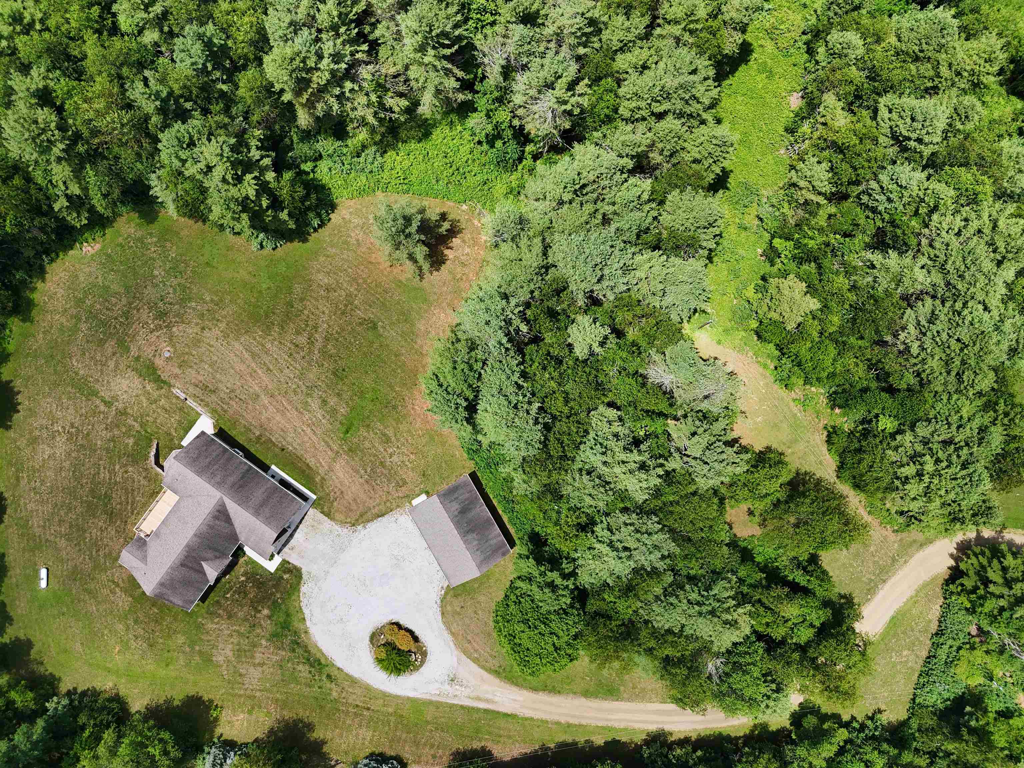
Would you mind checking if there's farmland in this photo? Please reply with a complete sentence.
No, there's no farmland in this view.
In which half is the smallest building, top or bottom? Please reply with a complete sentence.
The smallest building is in the bottom half of the image.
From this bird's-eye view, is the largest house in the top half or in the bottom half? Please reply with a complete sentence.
You can find the largest house in the bottom half.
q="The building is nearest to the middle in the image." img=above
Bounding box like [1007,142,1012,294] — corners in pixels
[407,474,512,588]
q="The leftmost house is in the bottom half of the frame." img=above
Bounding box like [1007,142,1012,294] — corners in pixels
[118,428,306,613]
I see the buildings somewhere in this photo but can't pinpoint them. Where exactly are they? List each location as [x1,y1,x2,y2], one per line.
[407,474,512,588]
[118,428,306,613]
